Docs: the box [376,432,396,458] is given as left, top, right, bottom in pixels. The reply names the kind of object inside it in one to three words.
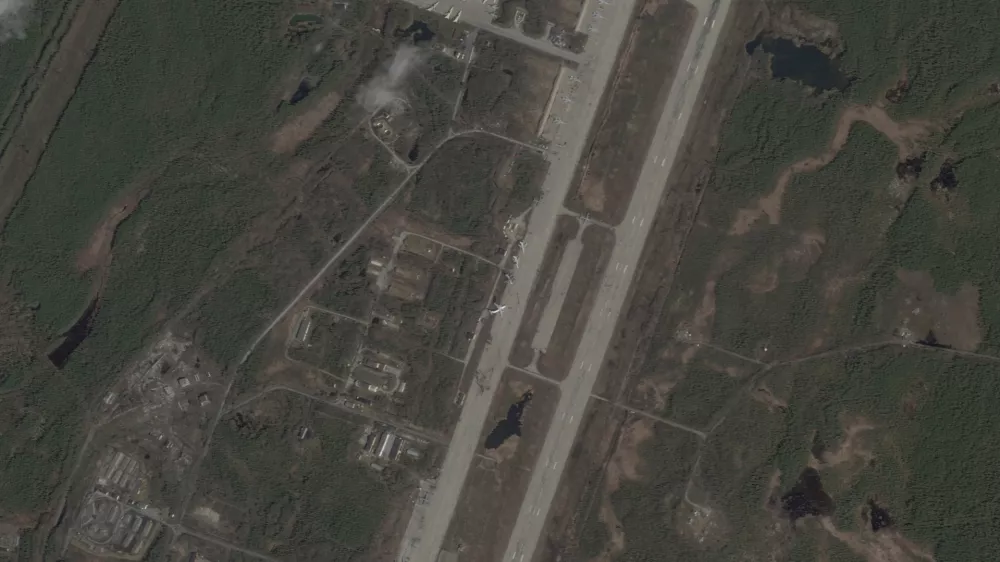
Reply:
hangar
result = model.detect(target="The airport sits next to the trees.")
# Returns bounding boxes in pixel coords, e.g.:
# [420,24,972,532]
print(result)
[394,0,730,562]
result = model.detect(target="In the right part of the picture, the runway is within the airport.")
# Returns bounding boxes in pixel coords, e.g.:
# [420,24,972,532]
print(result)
[503,0,730,562]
